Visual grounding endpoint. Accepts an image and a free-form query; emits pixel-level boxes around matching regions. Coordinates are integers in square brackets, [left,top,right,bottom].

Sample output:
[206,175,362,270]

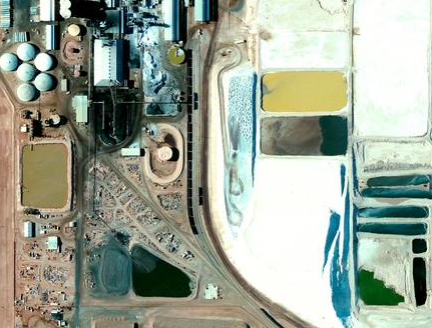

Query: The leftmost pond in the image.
[24,144,67,208]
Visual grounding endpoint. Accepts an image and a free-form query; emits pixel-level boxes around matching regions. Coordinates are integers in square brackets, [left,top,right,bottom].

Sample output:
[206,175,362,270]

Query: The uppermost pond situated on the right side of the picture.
[262,70,347,111]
